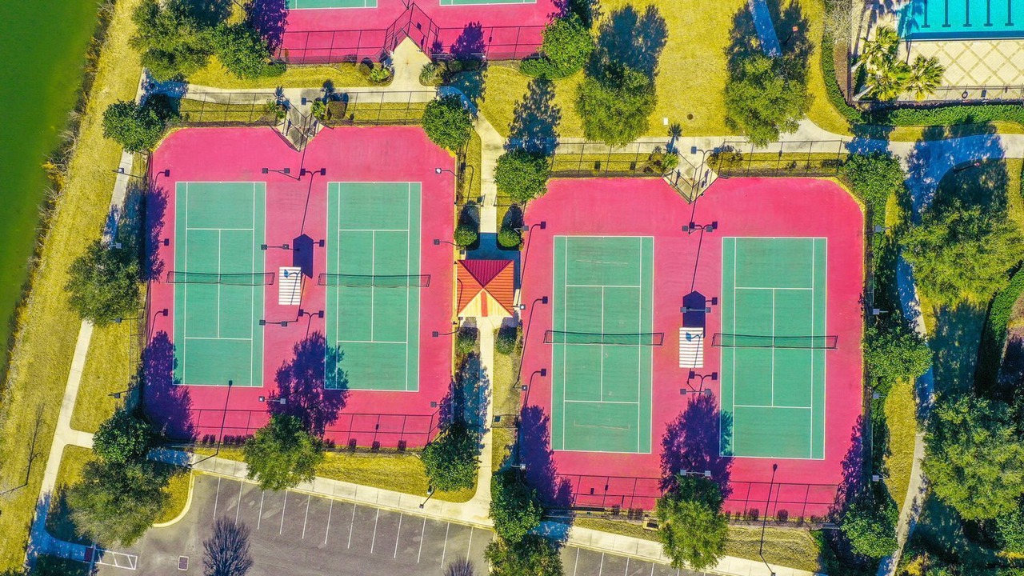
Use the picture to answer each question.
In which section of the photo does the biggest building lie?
center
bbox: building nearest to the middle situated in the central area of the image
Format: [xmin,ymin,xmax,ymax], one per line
[456,259,515,318]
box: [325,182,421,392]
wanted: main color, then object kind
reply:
green tennis court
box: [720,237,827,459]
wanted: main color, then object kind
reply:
green tennis court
